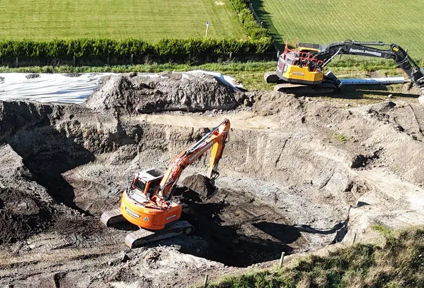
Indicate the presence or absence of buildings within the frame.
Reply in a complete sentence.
No, there's no building here.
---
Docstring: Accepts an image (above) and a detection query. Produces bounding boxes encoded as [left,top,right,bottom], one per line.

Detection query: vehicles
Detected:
[101,112,236,253]
[266,35,424,98]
